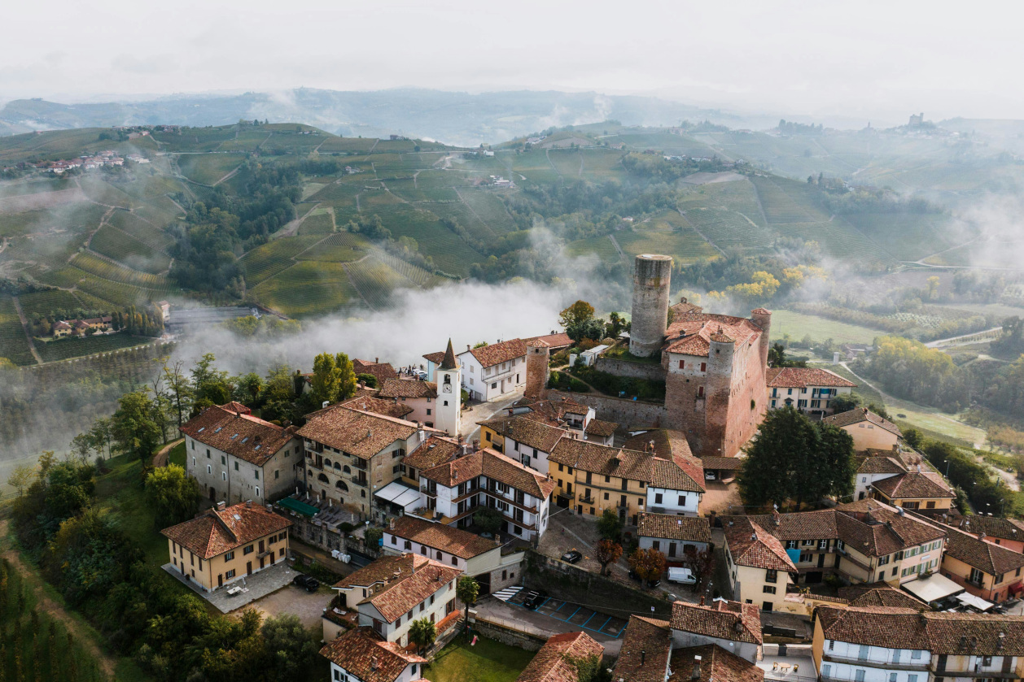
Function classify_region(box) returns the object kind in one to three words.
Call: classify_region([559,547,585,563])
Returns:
car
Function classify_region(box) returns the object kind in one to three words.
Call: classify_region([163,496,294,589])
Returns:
house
